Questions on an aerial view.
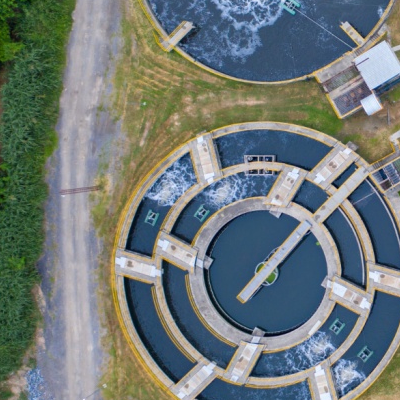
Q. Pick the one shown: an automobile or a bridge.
bridge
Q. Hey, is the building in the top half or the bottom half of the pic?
top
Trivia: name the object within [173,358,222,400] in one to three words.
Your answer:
bridge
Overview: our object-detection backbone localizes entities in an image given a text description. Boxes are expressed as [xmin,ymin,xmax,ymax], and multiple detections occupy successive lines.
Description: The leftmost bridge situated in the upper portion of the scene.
[188,131,224,182]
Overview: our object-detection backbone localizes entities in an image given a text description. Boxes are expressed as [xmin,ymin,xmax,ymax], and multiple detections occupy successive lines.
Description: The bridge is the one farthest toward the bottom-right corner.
[305,364,339,400]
